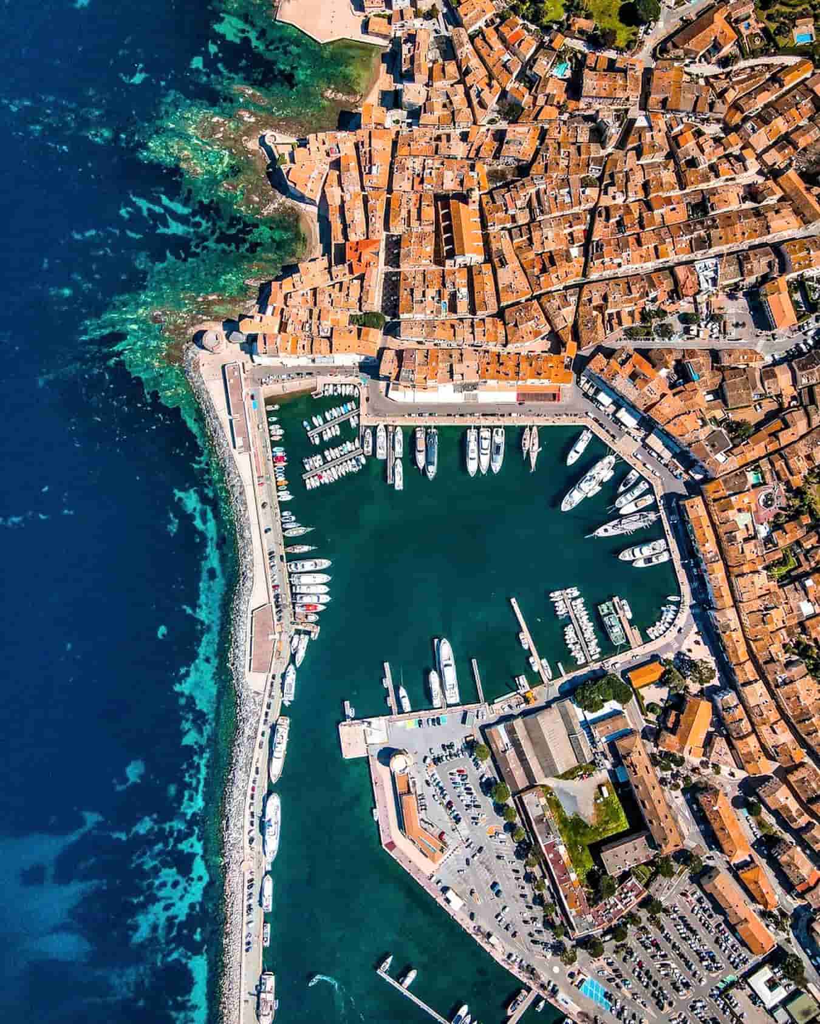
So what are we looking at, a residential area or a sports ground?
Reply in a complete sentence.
The area seen from above is a residential area.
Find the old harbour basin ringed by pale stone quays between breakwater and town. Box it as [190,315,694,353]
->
[255,375,691,1024]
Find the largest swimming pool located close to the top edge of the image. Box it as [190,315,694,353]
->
[794,31,817,45]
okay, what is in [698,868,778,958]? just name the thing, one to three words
building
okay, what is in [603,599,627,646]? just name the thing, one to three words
ship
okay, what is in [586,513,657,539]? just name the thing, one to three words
boat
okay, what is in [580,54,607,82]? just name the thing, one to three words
house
